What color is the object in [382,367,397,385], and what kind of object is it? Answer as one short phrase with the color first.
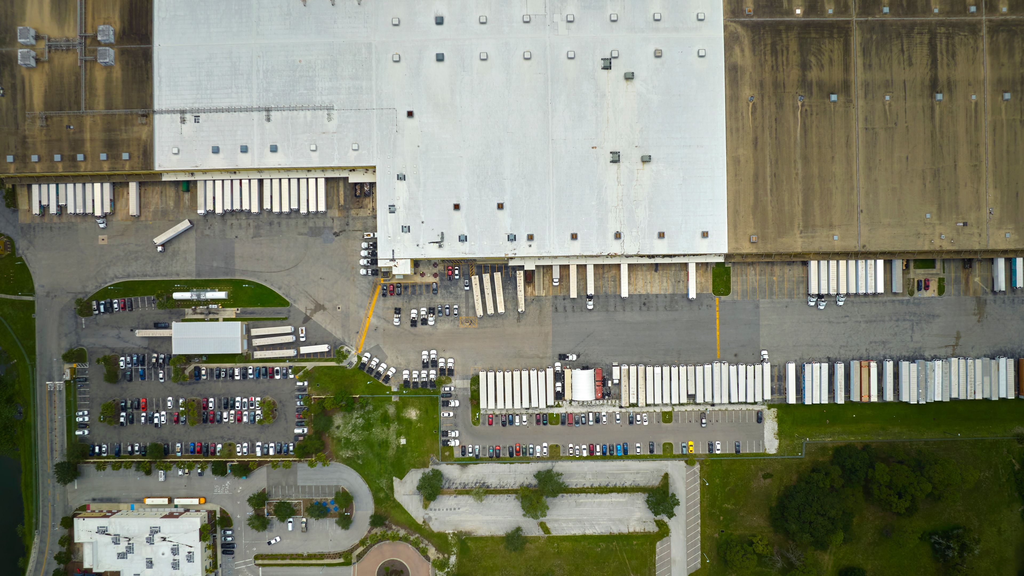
white vehicle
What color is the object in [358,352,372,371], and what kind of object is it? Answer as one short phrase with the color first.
white vehicle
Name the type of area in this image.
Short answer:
industrial area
